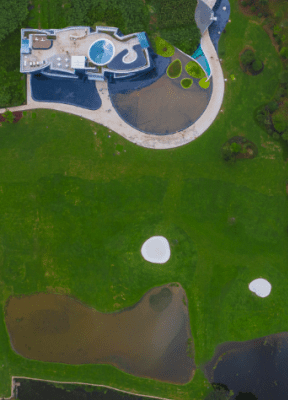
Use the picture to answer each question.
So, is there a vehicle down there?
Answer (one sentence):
No, the scene contains no vehicle.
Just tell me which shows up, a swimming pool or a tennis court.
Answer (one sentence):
It is a swimming pool that can be seen here.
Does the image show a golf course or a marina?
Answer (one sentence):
This looks like a golf course.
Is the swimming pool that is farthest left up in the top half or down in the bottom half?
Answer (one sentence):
It is in the top half that the swimming pool that is farthest left appears.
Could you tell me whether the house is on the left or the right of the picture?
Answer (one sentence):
The house sits on the left side.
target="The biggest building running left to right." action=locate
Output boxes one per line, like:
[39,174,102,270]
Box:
[20,27,153,80]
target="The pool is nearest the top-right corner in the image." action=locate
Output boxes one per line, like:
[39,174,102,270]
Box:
[194,46,211,76]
